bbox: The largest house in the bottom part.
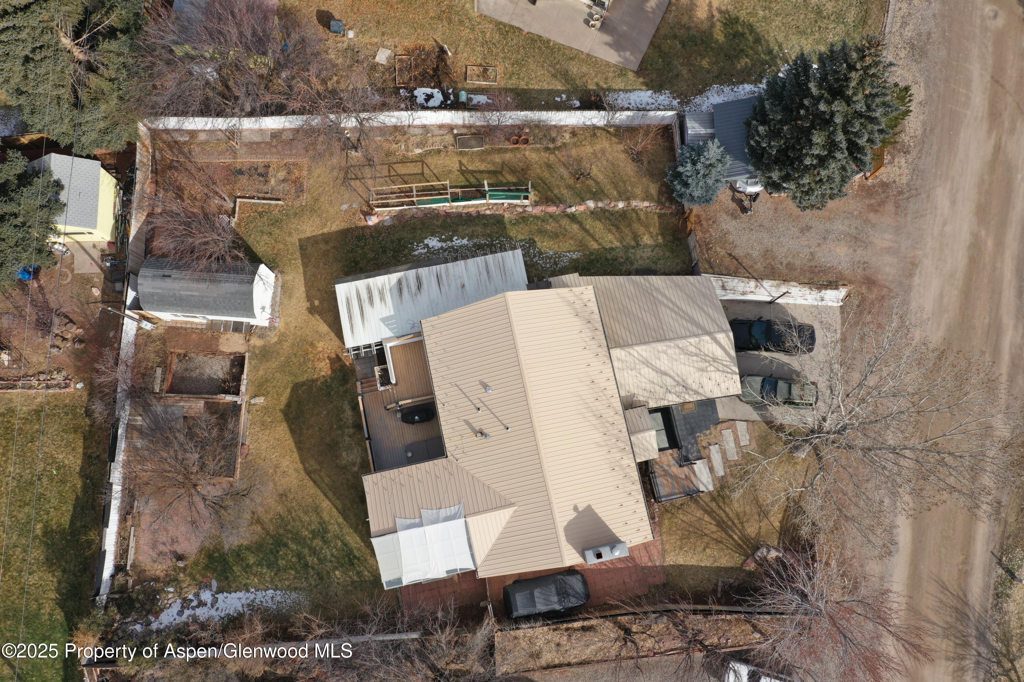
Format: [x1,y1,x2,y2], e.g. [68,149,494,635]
[363,283,658,580]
